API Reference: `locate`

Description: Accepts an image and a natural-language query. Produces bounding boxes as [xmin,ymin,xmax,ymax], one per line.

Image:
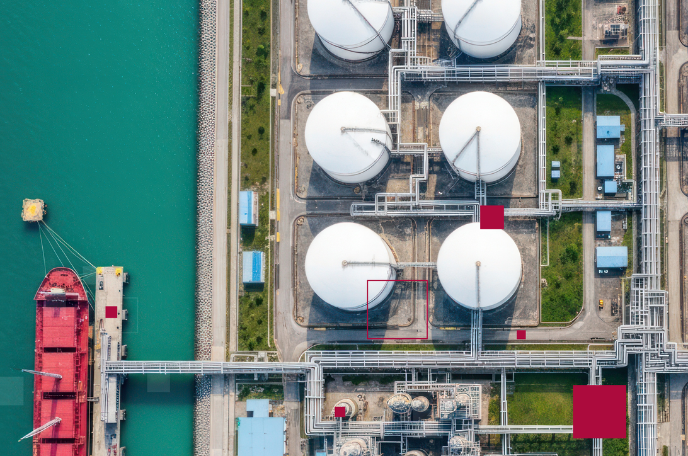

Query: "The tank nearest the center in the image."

[304,221,398,313]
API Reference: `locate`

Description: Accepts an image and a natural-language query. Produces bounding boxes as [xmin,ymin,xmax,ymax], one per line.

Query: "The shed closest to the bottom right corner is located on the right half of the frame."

[597,246,628,267]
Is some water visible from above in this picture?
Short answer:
Yes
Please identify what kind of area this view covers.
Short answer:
industrial area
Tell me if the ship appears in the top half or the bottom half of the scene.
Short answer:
bottom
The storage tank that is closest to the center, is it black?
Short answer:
No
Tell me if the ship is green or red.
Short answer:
red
